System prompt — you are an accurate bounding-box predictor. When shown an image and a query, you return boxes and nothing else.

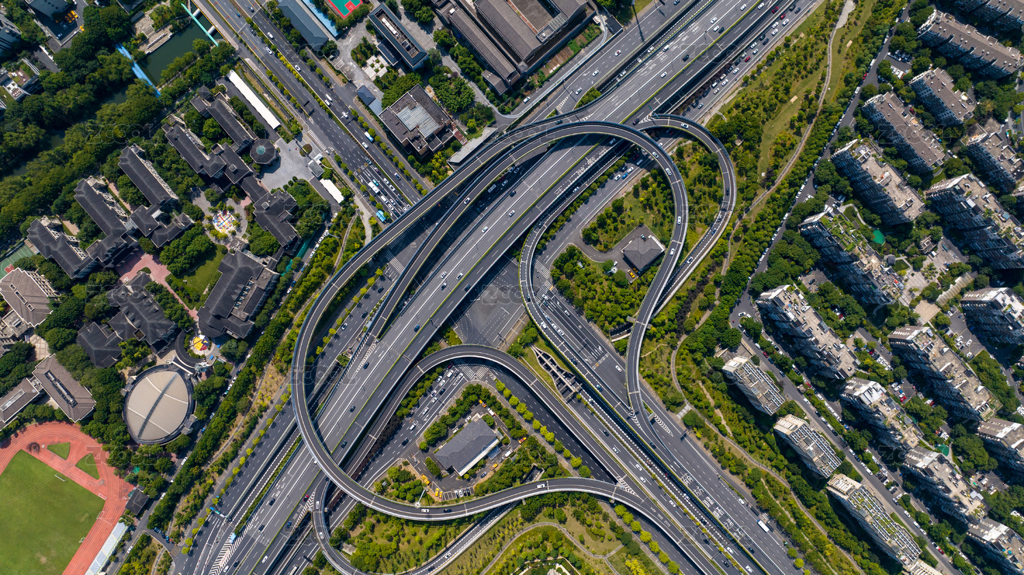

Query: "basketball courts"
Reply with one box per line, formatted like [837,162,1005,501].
[332,0,363,18]
[0,242,35,279]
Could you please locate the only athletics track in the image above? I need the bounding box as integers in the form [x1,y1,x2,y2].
[0,419,135,575]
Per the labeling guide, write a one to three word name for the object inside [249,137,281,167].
building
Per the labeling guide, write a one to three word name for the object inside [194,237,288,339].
building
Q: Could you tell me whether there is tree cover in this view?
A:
Yes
